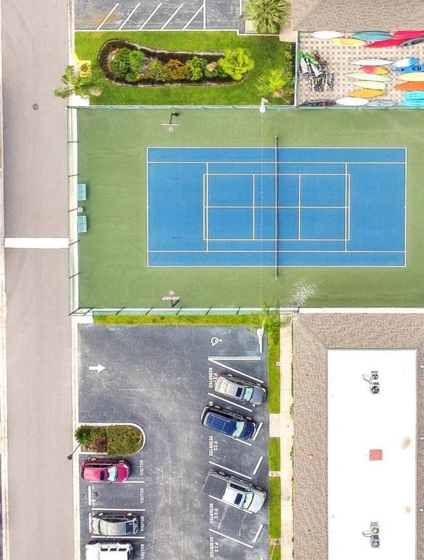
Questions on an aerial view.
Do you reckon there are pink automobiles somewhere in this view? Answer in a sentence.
Yes, the image includes a pink automobile.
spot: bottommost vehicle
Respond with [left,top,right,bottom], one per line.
[86,540,134,560]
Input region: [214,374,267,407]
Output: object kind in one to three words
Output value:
car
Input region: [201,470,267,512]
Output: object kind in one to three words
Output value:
truck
